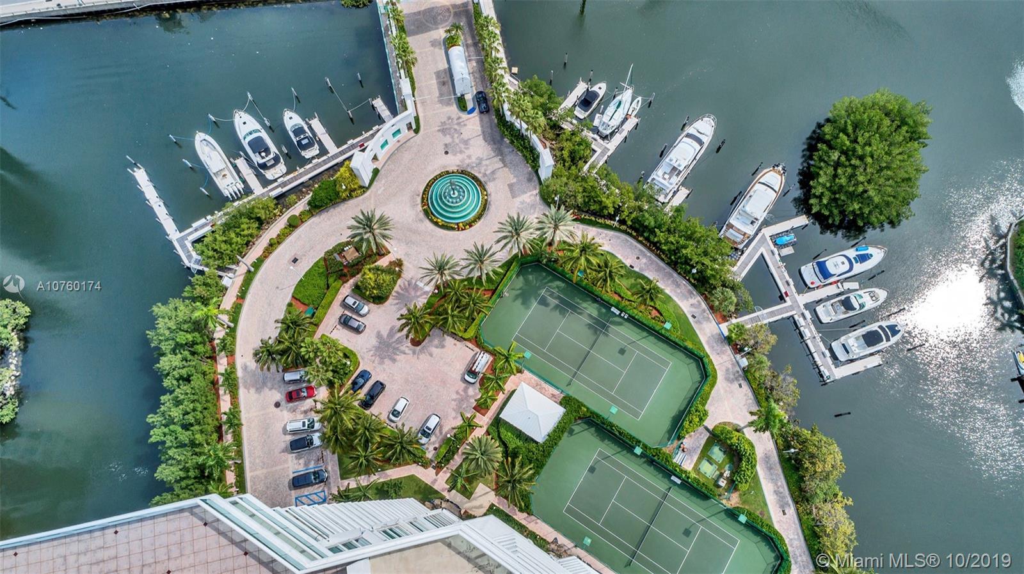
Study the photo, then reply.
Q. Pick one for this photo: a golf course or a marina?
marina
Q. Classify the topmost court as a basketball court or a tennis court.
tennis court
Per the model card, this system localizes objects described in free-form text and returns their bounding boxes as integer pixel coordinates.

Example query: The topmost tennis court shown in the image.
[482,264,705,446]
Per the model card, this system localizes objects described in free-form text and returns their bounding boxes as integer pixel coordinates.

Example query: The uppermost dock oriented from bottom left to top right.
[559,74,591,113]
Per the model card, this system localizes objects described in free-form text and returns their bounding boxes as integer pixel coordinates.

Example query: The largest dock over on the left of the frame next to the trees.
[175,137,372,273]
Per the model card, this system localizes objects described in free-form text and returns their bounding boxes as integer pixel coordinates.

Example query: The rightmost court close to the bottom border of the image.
[532,418,781,574]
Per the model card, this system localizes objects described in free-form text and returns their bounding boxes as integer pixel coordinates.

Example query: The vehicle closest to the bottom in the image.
[292,468,327,489]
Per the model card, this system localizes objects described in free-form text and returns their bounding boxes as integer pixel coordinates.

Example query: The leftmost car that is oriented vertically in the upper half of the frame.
[476,88,489,111]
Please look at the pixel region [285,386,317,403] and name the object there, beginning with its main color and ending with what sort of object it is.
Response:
red car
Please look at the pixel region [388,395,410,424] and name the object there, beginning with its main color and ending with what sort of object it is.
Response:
white car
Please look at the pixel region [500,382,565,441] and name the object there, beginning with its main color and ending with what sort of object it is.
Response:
white gazebo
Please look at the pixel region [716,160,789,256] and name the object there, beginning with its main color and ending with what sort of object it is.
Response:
white boat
